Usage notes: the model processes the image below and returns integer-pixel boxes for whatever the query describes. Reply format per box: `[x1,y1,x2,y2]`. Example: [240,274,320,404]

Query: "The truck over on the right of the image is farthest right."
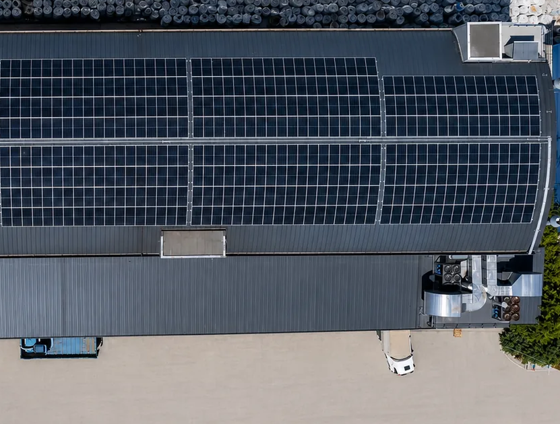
[387,331,416,376]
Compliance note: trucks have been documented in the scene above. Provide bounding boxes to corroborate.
[20,338,97,359]
[387,331,416,376]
